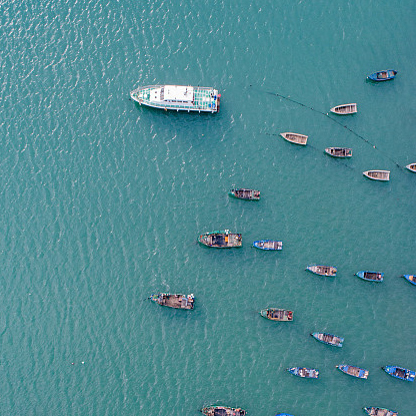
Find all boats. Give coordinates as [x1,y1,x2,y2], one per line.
[380,366,416,381]
[406,163,416,173]
[230,188,260,201]
[280,132,308,145]
[303,265,337,276]
[308,332,344,346]
[328,104,357,116]
[255,307,293,321]
[353,270,384,282]
[325,147,353,158]
[365,70,397,81]
[332,364,368,379]
[398,275,416,286]
[285,366,319,378]
[146,291,195,310]
[197,231,242,248]
[360,407,398,416]
[363,170,390,181]
[203,406,246,416]
[251,240,282,251]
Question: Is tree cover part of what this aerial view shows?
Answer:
No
